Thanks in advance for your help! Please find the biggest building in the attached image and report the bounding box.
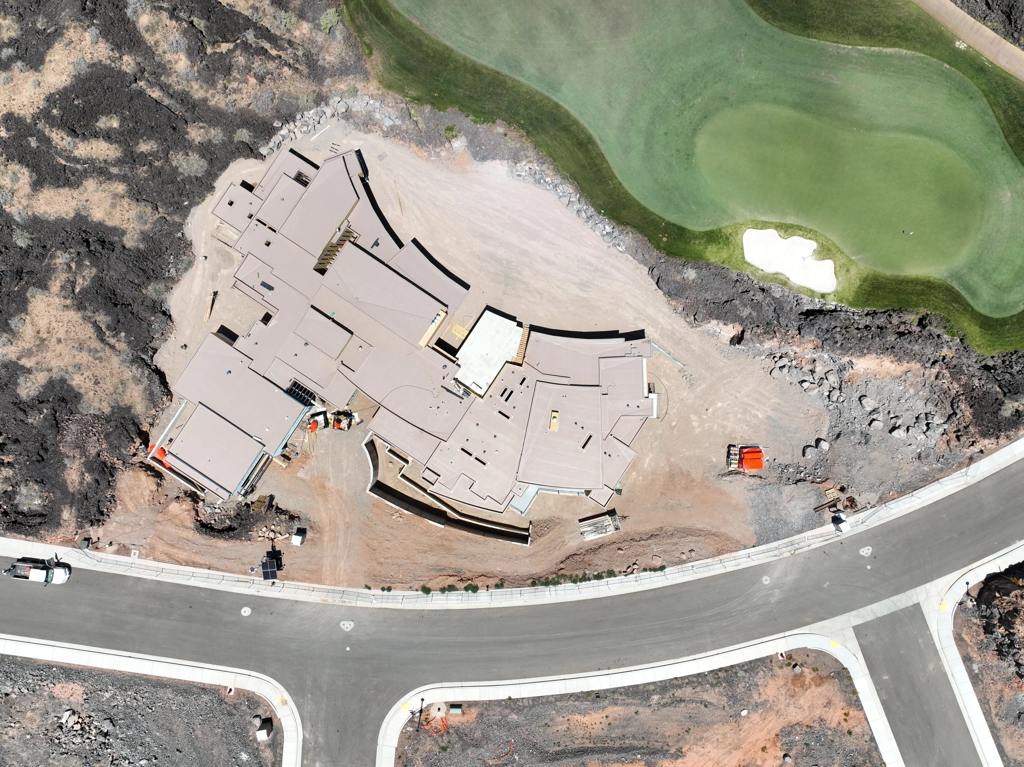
[166,148,657,513]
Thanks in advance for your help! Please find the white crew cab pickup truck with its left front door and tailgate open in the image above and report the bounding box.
[1,557,72,591]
